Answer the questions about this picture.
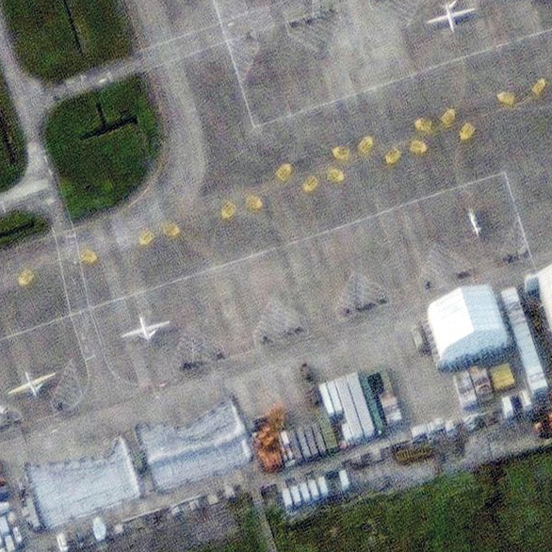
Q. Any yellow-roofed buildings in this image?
Yes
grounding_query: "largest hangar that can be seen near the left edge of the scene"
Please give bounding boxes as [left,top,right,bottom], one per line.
[26,435,142,530]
